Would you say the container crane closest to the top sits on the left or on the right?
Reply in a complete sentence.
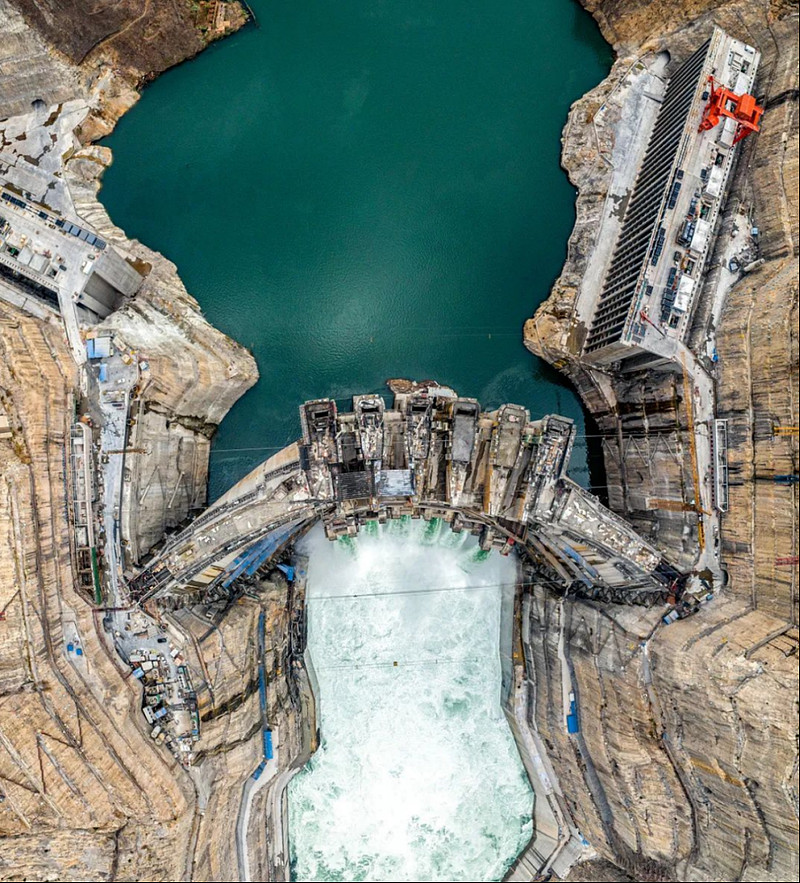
The container crane closest to the top appears in the right half of the scene.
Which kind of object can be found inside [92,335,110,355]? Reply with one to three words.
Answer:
shed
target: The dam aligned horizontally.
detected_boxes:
[138,392,684,608]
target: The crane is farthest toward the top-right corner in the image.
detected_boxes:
[679,62,764,132]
